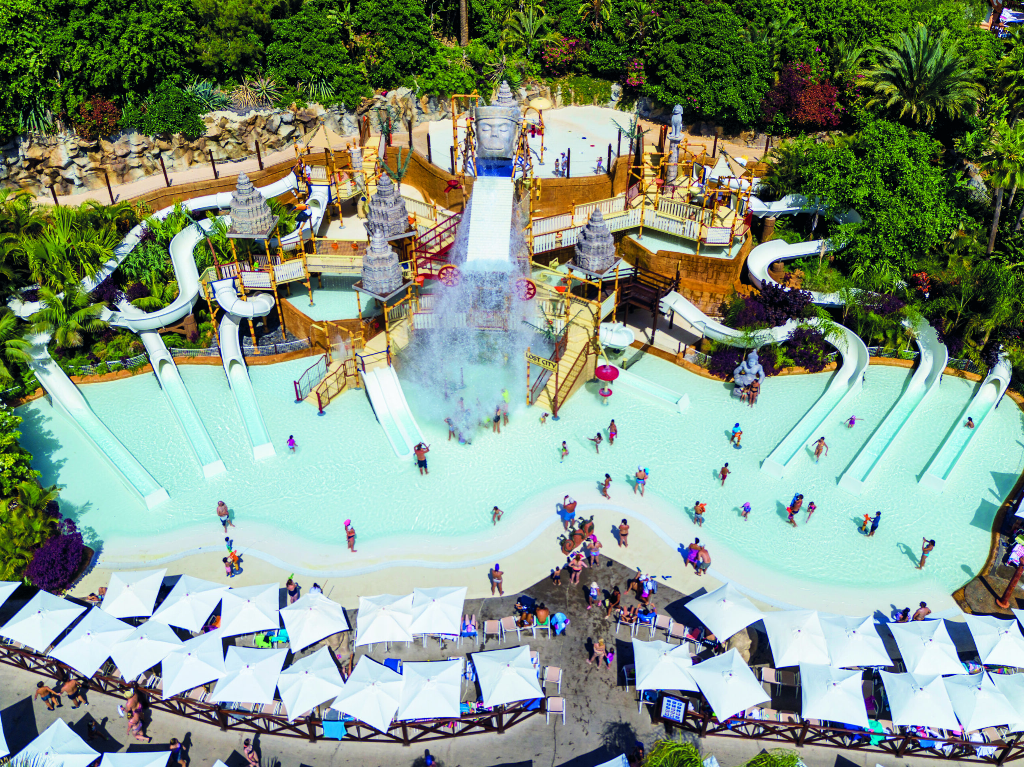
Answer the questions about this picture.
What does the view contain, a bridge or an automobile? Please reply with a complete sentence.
The image shows a bridge.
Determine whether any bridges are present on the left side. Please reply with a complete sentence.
Yes, a bridge shows up on the left side.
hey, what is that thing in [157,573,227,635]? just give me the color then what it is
white umbrella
